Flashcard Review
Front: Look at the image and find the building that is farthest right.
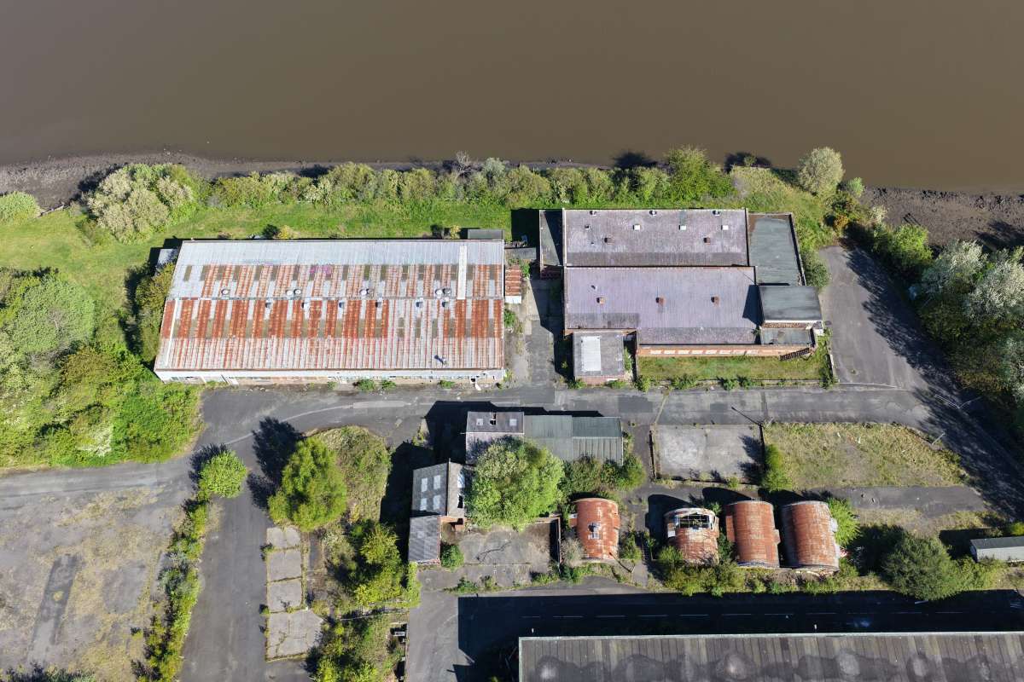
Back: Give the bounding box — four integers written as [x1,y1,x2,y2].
[965,540,1024,570]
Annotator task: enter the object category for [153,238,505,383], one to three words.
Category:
shed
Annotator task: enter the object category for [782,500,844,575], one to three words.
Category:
shed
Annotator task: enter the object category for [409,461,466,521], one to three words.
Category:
house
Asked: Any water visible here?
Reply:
Yes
